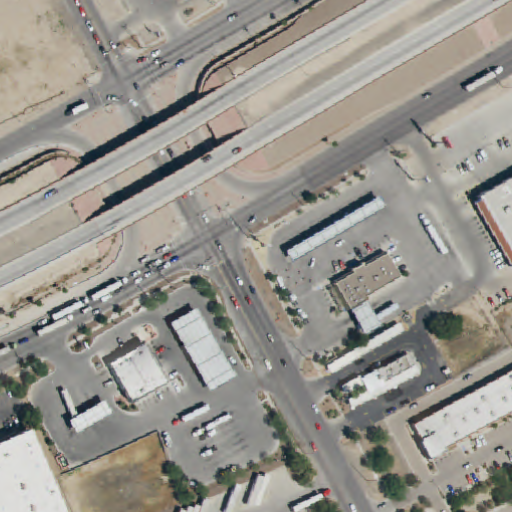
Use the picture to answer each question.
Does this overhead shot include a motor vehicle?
Yes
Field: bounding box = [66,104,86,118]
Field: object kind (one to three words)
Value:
vehicle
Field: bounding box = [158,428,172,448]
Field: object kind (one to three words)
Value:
vehicle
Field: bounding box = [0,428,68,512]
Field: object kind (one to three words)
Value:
building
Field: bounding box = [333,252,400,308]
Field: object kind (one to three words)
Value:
building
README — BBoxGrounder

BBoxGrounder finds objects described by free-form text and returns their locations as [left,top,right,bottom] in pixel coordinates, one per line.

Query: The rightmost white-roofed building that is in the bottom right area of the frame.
[412,368,512,459]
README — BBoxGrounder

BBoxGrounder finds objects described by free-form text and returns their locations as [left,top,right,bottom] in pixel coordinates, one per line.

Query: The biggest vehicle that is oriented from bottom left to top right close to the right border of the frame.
[466,68,499,91]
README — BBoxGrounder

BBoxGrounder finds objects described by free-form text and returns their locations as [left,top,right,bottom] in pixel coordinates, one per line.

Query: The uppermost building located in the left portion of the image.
[108,344,167,401]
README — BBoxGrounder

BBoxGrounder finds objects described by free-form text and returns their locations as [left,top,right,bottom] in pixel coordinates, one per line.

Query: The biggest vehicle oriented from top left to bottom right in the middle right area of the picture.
[420,219,447,253]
